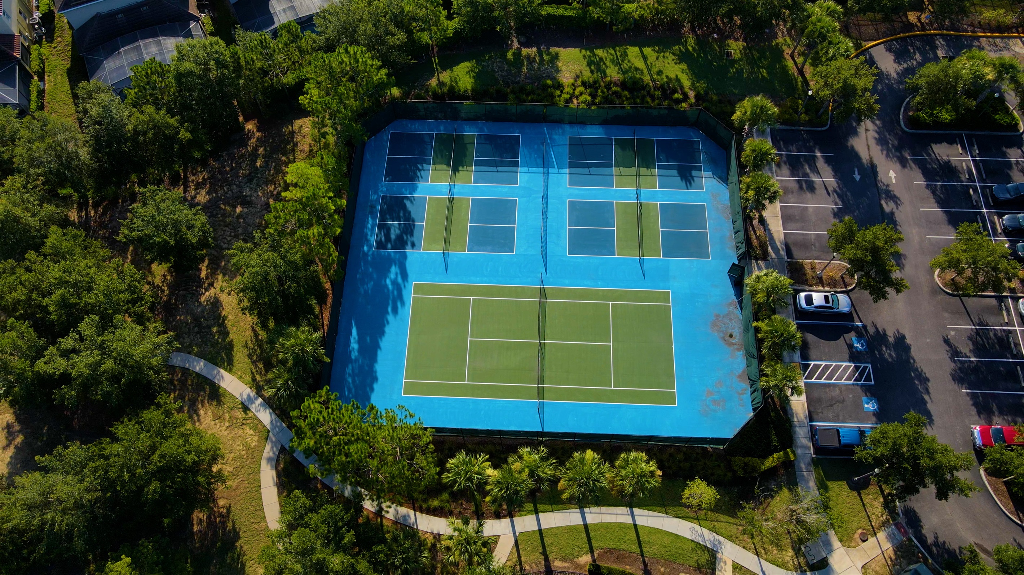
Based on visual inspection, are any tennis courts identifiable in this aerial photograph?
Yes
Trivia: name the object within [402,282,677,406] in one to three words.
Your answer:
tennis court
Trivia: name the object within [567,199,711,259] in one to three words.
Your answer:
sports court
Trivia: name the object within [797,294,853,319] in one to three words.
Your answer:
car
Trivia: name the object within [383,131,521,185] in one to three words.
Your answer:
sports court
